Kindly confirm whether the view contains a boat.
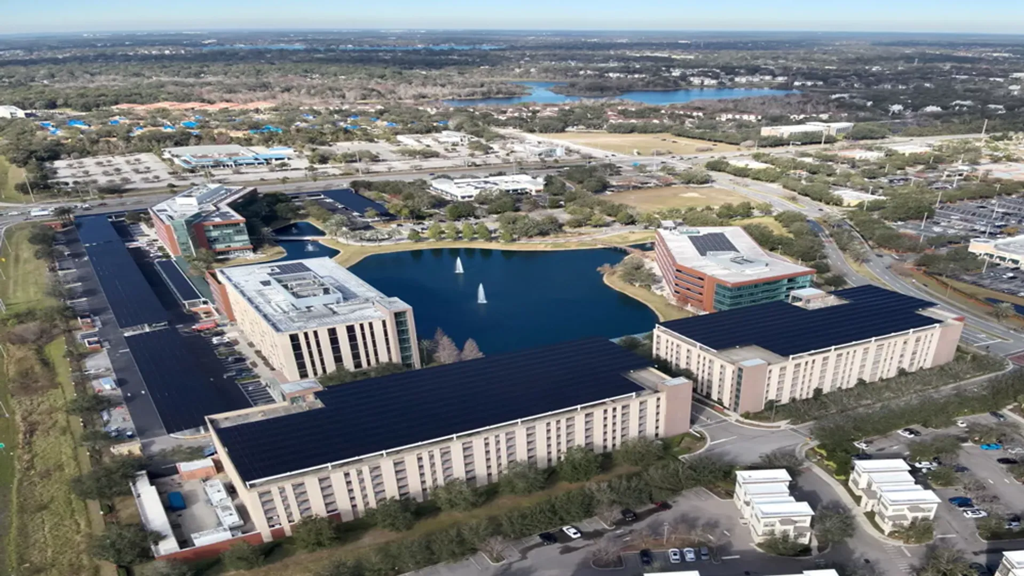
No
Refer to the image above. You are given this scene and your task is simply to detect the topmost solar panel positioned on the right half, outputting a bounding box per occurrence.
[688,232,740,256]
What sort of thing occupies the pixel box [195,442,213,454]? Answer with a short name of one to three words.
vehicle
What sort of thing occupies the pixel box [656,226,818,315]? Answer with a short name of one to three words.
building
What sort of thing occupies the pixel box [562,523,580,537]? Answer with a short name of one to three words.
car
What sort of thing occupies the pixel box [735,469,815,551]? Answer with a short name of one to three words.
house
